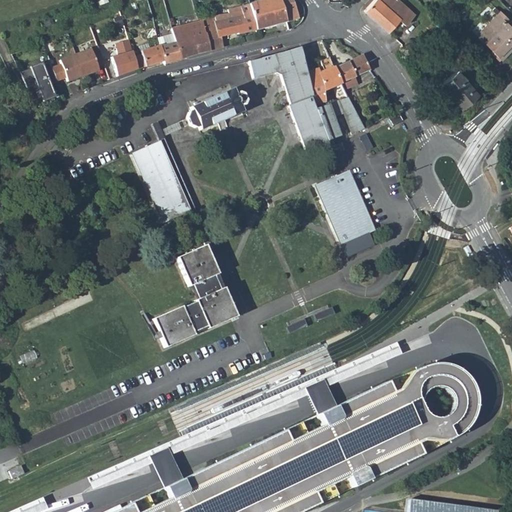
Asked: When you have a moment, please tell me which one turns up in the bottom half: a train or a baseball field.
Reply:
train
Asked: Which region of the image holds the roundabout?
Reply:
right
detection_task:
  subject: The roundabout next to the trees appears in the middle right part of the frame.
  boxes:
[411,106,512,318]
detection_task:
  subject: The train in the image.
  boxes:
[210,370,303,414]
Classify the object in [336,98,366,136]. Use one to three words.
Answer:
shed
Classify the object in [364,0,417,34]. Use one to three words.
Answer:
house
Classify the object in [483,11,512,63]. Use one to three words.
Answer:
house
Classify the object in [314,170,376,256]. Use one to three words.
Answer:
building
